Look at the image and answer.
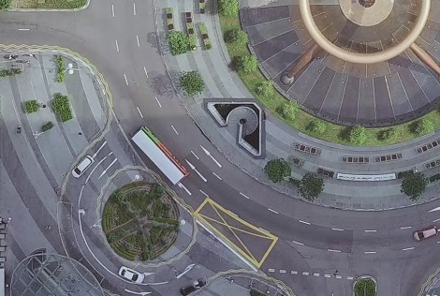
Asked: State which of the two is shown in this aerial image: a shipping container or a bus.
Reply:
bus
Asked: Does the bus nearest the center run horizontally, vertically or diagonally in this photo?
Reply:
diagonally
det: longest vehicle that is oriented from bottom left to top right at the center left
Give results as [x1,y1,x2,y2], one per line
[73,154,95,177]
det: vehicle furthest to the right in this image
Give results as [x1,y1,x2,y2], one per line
[414,226,439,241]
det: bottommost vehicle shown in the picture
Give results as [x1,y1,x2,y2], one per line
[180,278,206,296]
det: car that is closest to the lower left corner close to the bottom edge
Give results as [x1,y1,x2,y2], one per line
[119,267,145,283]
